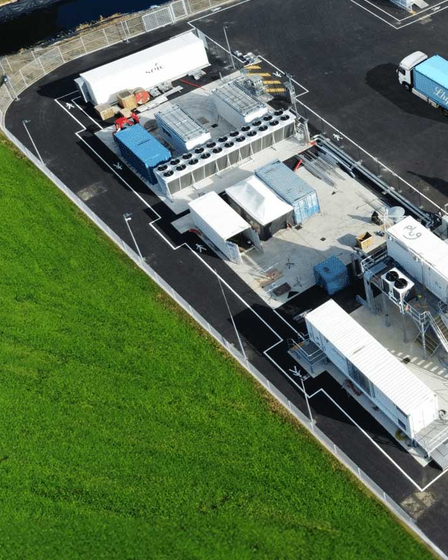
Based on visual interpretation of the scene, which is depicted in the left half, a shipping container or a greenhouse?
shipping container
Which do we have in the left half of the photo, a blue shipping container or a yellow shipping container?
blue shipping container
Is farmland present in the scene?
Yes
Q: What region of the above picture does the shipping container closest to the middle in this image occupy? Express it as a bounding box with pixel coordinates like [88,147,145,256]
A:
[187,192,266,270]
